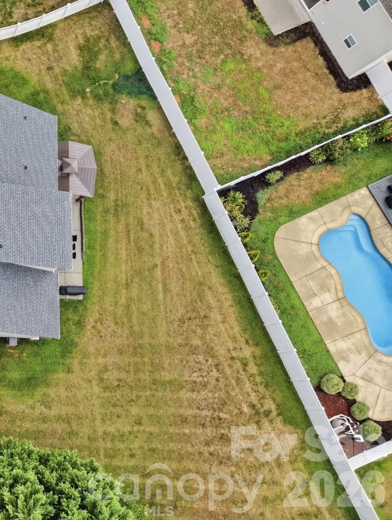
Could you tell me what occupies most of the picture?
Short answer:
grass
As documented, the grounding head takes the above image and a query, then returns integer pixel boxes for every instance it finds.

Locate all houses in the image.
[301,0,392,79]
[0,95,75,339]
